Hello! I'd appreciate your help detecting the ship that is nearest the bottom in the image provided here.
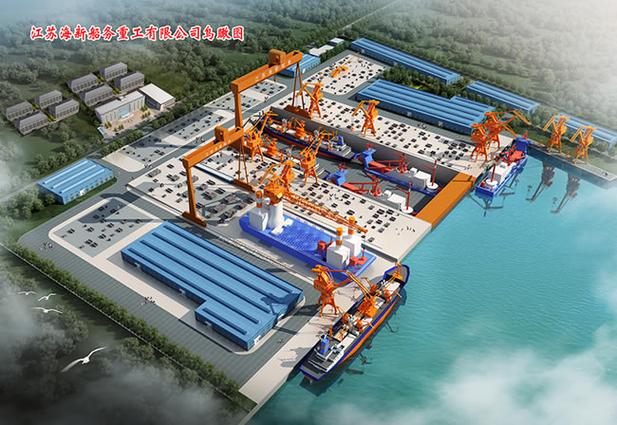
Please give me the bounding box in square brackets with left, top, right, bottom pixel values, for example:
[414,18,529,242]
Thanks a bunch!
[304,265,415,380]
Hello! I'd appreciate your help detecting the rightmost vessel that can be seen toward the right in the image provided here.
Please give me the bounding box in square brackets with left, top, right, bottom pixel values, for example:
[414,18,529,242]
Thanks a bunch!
[477,128,542,197]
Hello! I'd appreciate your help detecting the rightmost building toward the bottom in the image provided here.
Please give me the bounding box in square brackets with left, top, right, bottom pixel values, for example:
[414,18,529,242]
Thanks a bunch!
[119,220,305,350]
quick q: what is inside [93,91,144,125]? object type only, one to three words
building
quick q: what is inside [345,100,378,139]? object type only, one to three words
crane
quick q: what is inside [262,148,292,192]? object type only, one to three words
crane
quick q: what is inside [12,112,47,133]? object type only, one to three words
building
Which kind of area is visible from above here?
port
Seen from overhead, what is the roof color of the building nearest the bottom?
blue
